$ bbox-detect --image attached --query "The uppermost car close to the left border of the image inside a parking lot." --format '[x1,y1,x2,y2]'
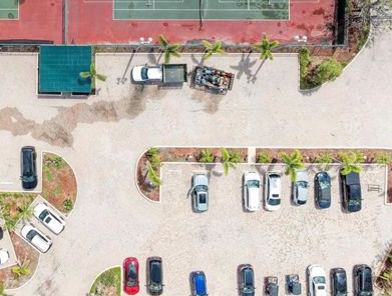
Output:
[19,147,38,191]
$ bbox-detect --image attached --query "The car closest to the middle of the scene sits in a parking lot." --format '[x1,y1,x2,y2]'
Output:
[186,173,208,212]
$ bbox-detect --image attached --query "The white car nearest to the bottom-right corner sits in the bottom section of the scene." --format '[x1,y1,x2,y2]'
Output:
[306,263,327,296]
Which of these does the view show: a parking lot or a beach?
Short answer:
parking lot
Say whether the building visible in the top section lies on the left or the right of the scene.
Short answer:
left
